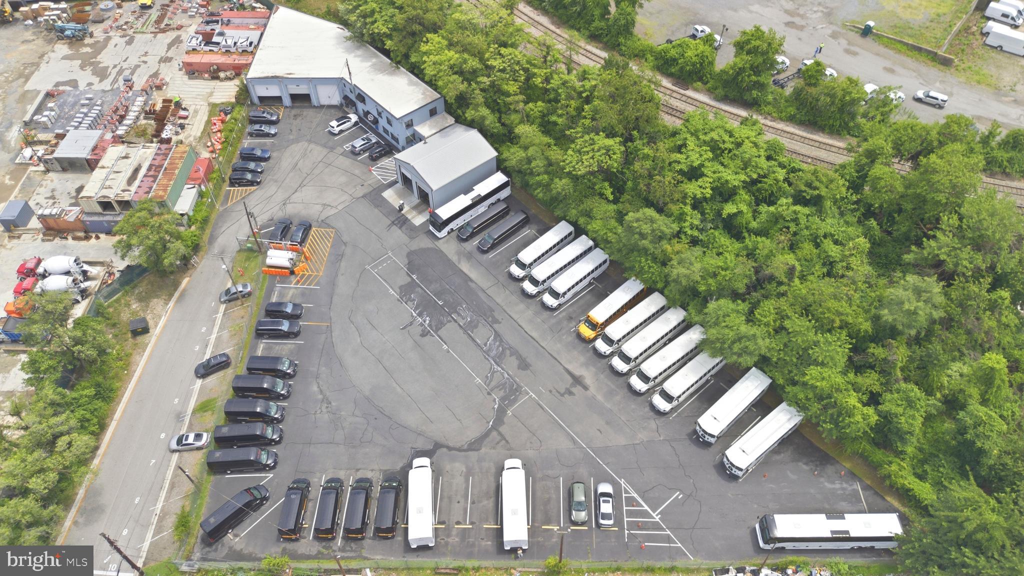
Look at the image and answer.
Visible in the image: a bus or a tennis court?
bus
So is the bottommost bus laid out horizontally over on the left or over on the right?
right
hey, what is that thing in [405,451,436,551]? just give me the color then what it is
white bus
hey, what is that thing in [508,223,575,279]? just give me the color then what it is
white bus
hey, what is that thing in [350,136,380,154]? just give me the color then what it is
gray car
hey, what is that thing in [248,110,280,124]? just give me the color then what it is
gray car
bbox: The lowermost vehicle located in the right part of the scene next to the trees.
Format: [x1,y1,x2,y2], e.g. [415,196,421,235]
[755,509,901,552]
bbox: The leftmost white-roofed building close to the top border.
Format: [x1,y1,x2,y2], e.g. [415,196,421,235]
[246,4,461,148]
